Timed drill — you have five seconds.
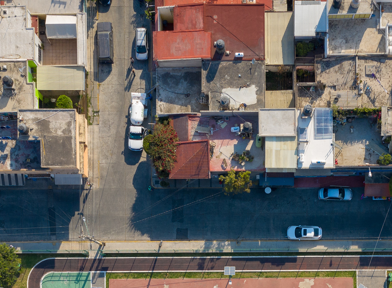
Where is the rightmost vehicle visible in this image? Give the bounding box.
[318,186,352,203]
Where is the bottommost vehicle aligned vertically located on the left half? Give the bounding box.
[127,94,148,151]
